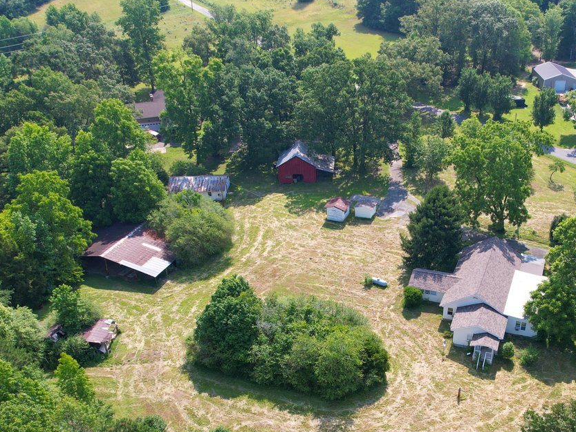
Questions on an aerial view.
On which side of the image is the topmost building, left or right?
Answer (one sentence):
The topmost building is on the right side of the image.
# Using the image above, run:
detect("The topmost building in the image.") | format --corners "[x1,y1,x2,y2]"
[537,62,576,92]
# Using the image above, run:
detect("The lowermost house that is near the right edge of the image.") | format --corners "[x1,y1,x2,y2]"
[410,234,553,370]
